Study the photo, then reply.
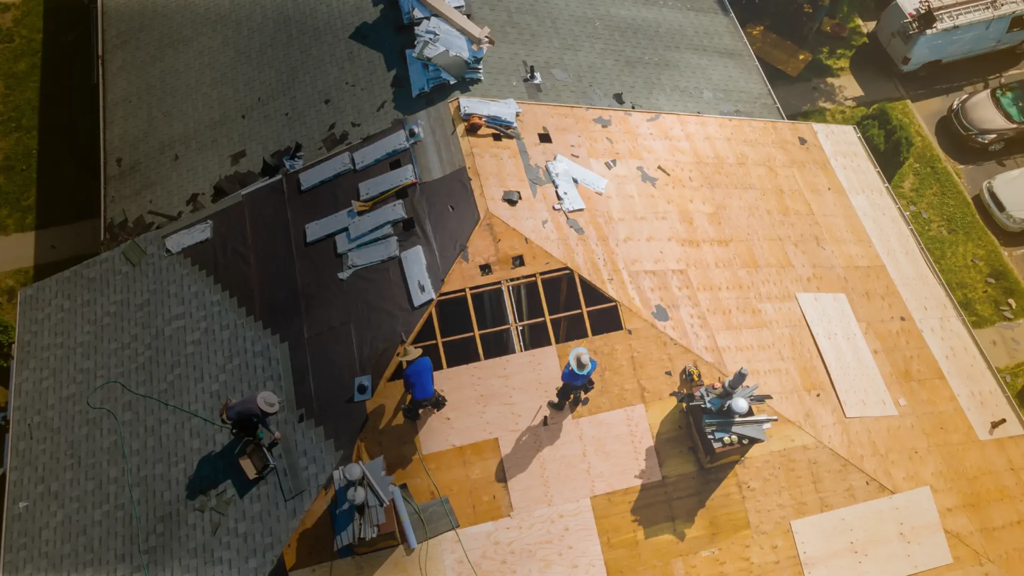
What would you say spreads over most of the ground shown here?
buildings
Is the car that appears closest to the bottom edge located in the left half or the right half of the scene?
right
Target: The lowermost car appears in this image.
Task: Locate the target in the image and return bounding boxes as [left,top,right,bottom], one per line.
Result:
[981,169,1024,243]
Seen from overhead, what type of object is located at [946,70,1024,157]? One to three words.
car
